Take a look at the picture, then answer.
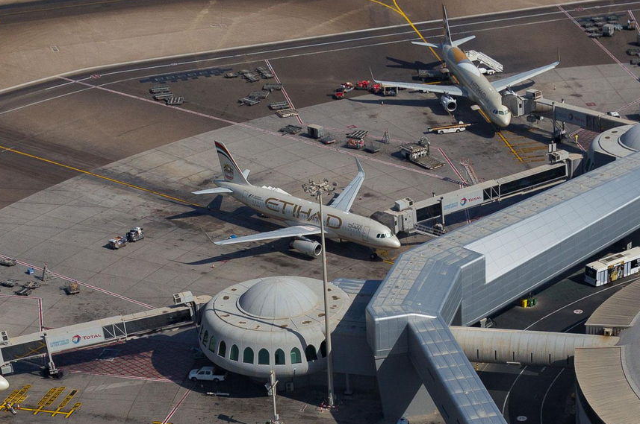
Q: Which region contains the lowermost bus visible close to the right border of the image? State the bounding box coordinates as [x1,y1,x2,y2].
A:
[590,247,640,282]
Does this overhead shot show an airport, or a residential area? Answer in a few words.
airport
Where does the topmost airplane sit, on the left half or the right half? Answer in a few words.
right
